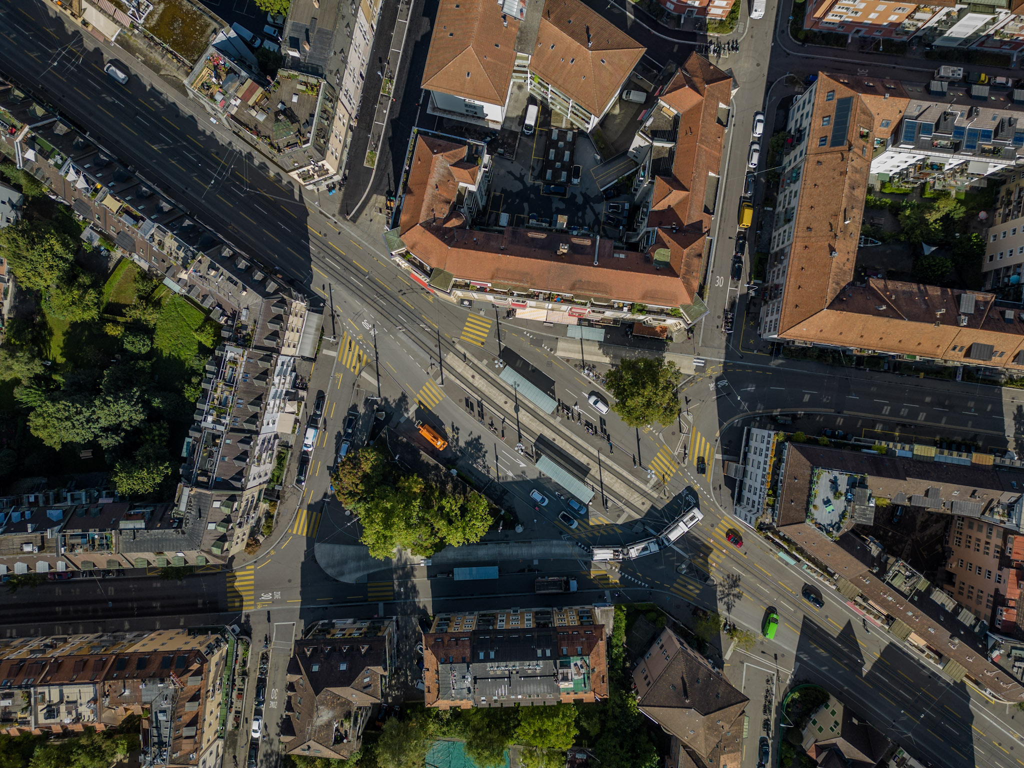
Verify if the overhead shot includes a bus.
Yes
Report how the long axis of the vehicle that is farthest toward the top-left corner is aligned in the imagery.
diagonally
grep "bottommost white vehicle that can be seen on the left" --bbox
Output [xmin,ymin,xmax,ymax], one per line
[252,715,264,737]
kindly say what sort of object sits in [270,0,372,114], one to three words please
house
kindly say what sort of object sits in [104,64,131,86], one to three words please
vehicle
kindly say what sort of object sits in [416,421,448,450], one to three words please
truck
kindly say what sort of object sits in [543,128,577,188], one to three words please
building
